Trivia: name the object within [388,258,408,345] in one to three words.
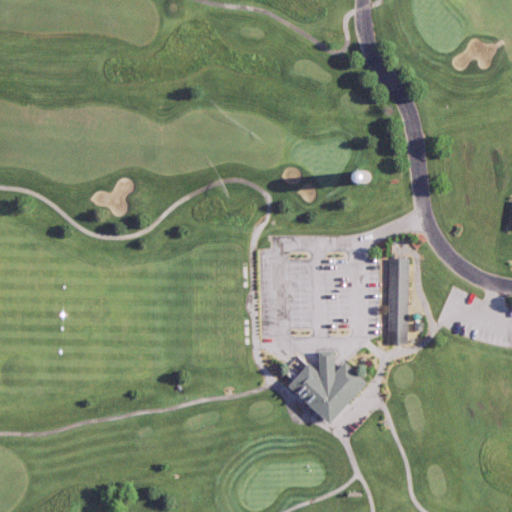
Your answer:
shed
